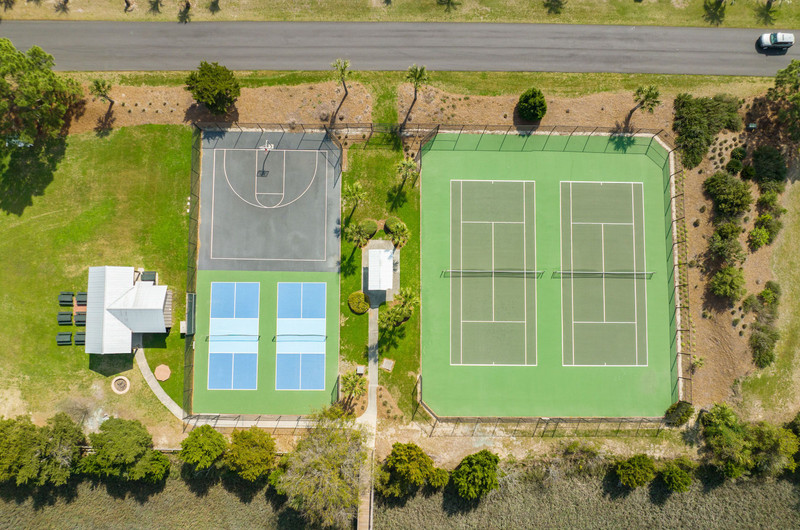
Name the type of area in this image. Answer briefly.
sports ground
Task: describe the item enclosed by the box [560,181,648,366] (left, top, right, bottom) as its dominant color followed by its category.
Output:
green tennis court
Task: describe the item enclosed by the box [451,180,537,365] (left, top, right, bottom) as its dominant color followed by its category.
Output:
green tennis court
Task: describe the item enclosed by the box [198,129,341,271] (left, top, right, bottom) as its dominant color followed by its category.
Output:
gray basketball court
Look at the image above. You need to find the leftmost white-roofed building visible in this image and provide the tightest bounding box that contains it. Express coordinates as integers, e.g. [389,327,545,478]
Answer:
[85,266,173,354]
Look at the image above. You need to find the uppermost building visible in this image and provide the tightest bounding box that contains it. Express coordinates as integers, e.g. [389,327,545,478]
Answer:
[362,241,400,301]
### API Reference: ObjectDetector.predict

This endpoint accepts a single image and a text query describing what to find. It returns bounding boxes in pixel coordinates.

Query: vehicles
[759,32,795,50]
